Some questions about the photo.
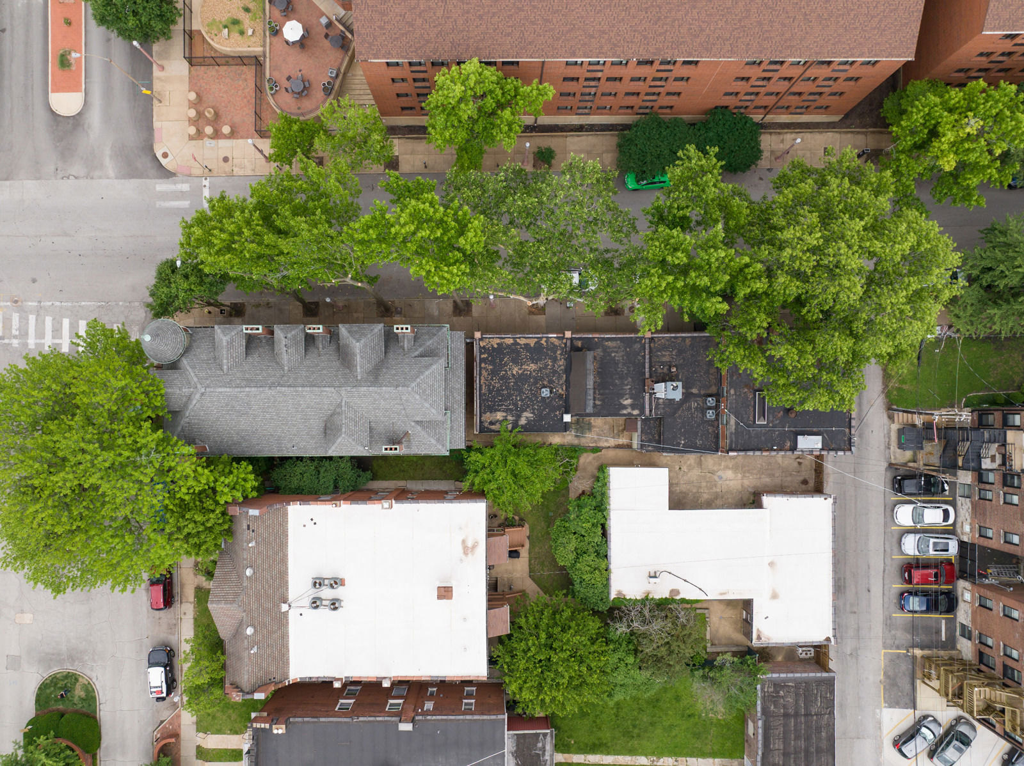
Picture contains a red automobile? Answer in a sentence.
Yes, you can see a red automobile in this photo.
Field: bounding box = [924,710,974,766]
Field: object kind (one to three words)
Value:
car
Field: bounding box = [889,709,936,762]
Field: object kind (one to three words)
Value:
car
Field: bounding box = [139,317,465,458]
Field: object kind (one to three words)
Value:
house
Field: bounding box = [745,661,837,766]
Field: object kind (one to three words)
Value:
building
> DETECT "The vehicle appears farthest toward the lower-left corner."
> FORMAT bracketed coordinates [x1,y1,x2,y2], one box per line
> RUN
[146,644,178,702]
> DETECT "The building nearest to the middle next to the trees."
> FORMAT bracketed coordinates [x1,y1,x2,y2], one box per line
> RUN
[473,331,572,435]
